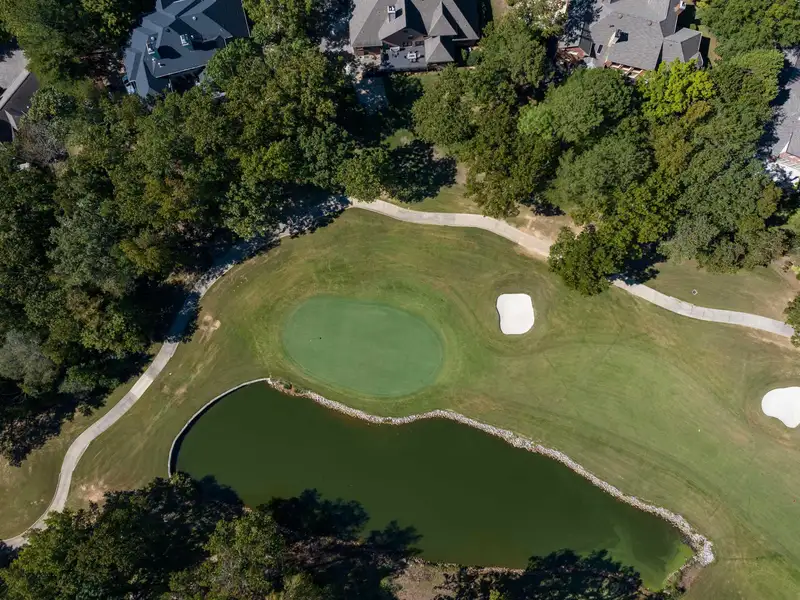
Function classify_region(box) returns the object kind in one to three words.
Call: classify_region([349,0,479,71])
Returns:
house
